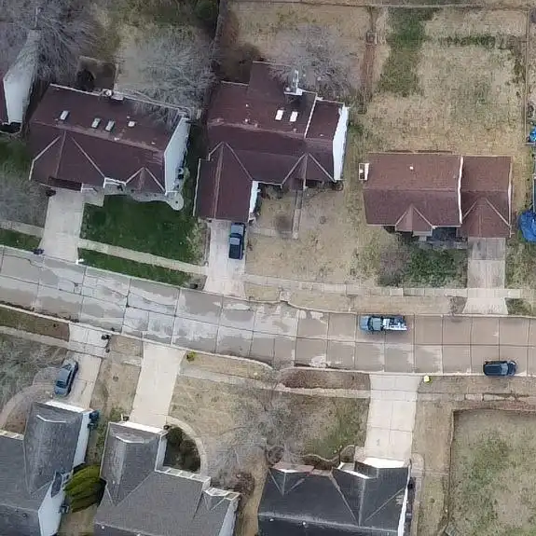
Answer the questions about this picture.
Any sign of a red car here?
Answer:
No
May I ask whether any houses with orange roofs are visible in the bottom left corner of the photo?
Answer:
No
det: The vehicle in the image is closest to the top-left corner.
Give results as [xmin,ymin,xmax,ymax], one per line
[227,221,248,260]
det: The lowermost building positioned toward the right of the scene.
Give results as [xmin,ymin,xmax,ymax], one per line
[256,459,412,536]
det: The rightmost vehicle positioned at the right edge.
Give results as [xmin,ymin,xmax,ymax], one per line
[484,360,516,376]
